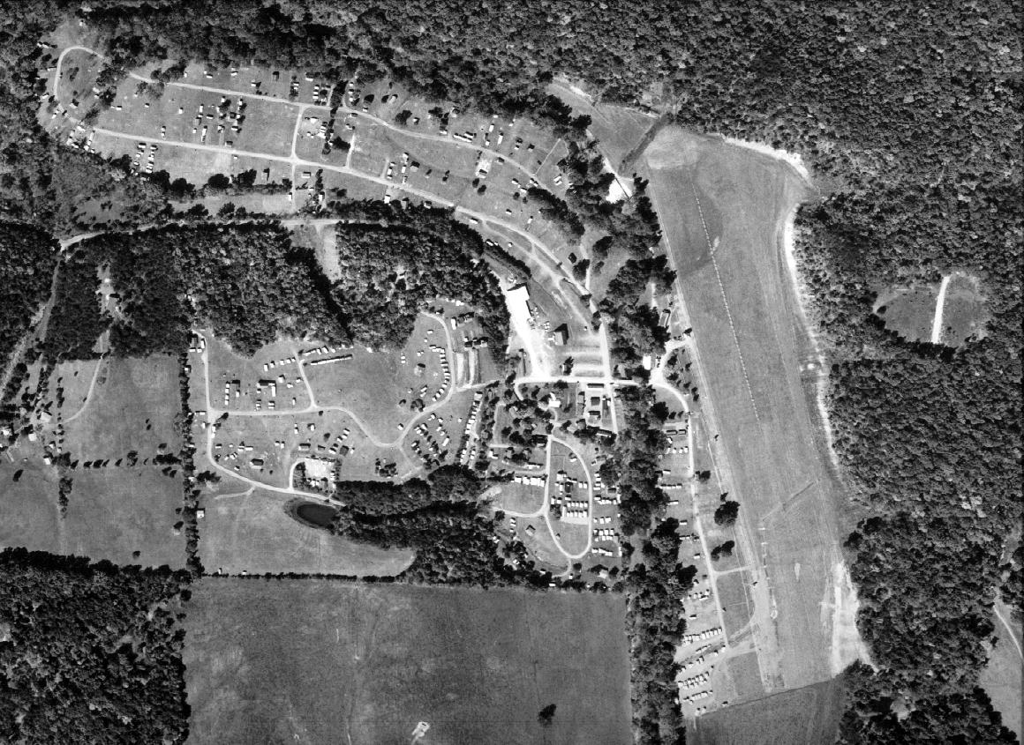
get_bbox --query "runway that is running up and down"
[651,141,839,688]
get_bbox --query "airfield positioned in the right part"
[651,141,839,688]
